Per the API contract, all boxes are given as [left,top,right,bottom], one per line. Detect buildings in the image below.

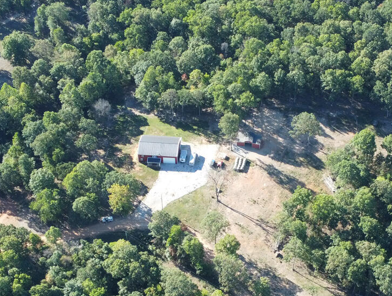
[236,130,264,149]
[136,135,182,171]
